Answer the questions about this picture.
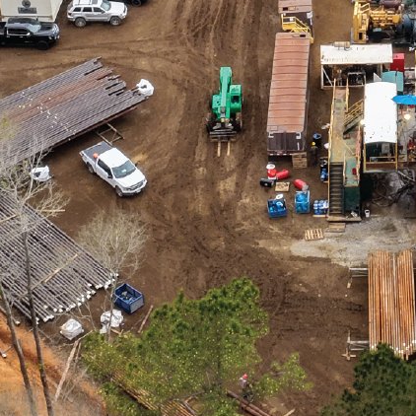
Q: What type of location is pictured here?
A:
industrial area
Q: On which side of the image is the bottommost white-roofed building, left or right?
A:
right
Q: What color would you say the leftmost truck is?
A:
black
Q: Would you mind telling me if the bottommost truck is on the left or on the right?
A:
left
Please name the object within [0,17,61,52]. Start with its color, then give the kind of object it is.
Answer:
black truck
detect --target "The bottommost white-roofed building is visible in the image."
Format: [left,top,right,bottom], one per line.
[363,81,400,217]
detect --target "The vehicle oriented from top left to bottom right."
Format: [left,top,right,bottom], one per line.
[72,130,148,192]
